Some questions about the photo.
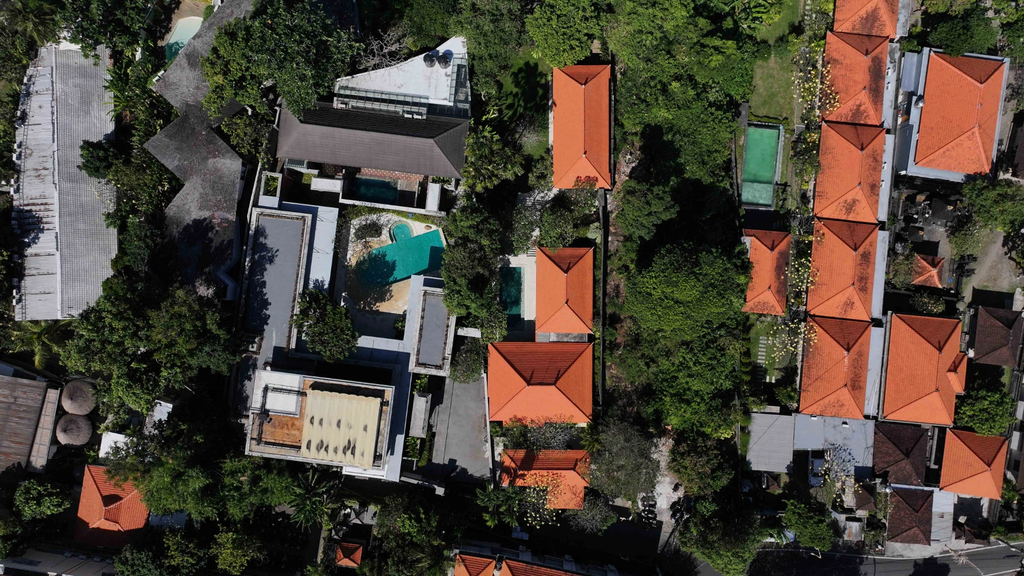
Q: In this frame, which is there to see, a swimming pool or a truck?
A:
swimming pool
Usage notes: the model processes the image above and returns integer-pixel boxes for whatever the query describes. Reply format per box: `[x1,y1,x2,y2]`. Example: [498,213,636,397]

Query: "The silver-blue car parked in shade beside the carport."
[809,458,825,487]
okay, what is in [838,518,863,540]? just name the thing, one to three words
shed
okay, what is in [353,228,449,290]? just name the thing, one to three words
swimming pool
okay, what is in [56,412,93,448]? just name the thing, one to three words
umbrella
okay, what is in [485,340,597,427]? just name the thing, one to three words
house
